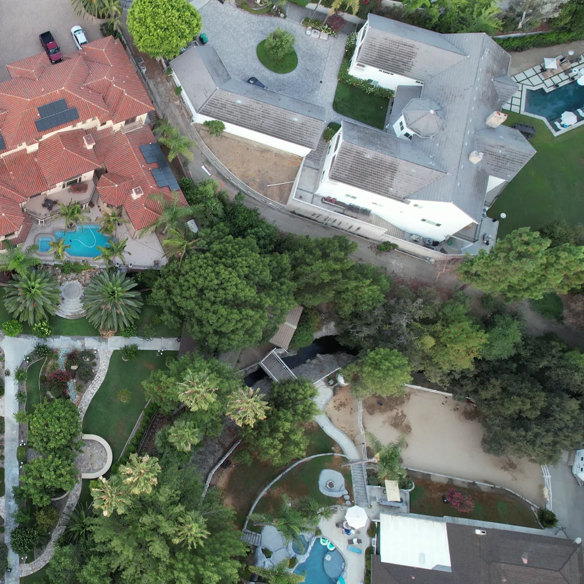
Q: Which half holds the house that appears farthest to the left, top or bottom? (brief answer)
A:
top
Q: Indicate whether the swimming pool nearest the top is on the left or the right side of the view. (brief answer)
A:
right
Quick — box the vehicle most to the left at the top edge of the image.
[38,25,62,63]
